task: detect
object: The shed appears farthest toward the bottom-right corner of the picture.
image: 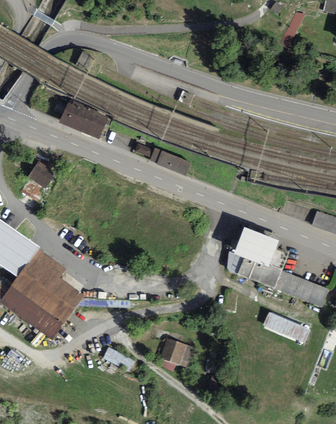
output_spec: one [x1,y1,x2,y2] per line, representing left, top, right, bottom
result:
[264,312,311,345]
